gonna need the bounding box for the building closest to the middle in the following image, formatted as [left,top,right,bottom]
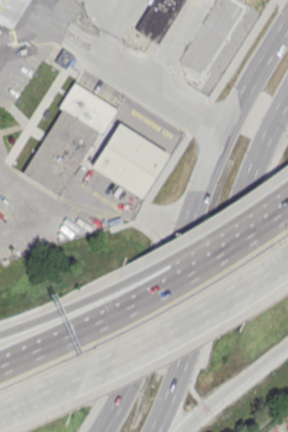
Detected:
[92,122,169,200]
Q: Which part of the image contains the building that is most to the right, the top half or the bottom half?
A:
top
